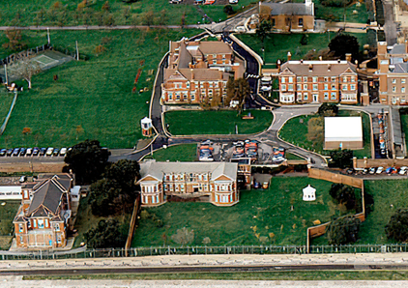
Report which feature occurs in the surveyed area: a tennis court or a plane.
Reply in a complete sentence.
Visible in the photo is a tennis court.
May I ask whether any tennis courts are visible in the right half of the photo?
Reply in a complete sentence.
No, looking in the right half of the photo, there is no tennis court.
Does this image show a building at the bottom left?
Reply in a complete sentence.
Yes, looking at the bottom left, one can make out a building.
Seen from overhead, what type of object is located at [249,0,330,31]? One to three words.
building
